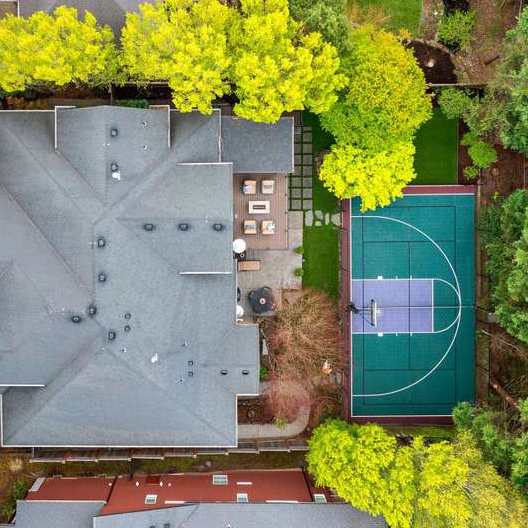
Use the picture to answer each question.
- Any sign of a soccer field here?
No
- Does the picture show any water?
No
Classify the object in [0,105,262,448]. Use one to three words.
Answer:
house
